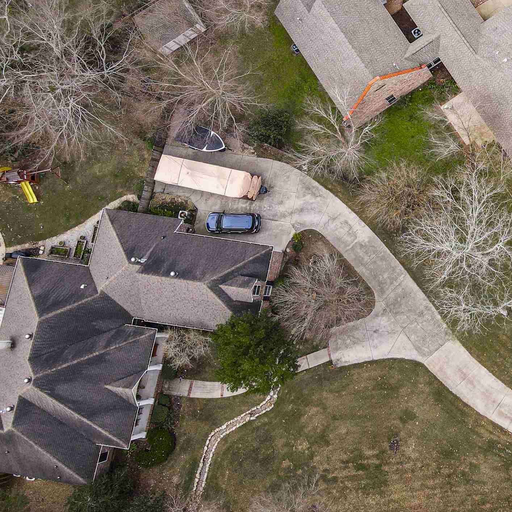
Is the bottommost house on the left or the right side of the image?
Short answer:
left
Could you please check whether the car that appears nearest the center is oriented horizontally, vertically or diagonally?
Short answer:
horizontally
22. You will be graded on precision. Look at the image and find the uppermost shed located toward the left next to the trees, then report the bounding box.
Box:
[122,0,206,54]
